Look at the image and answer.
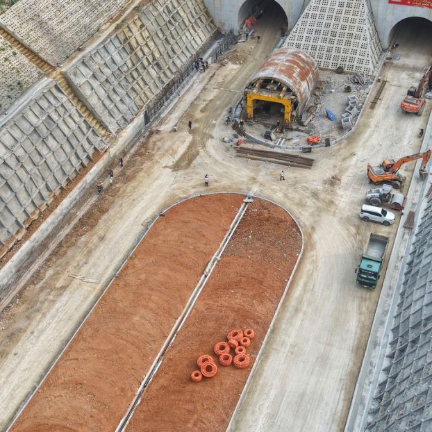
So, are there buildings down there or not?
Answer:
No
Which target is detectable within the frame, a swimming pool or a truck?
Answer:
truck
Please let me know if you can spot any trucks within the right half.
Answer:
Yes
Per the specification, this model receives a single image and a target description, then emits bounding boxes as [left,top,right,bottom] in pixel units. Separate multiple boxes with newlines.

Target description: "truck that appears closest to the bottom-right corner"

[354,231,392,289]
